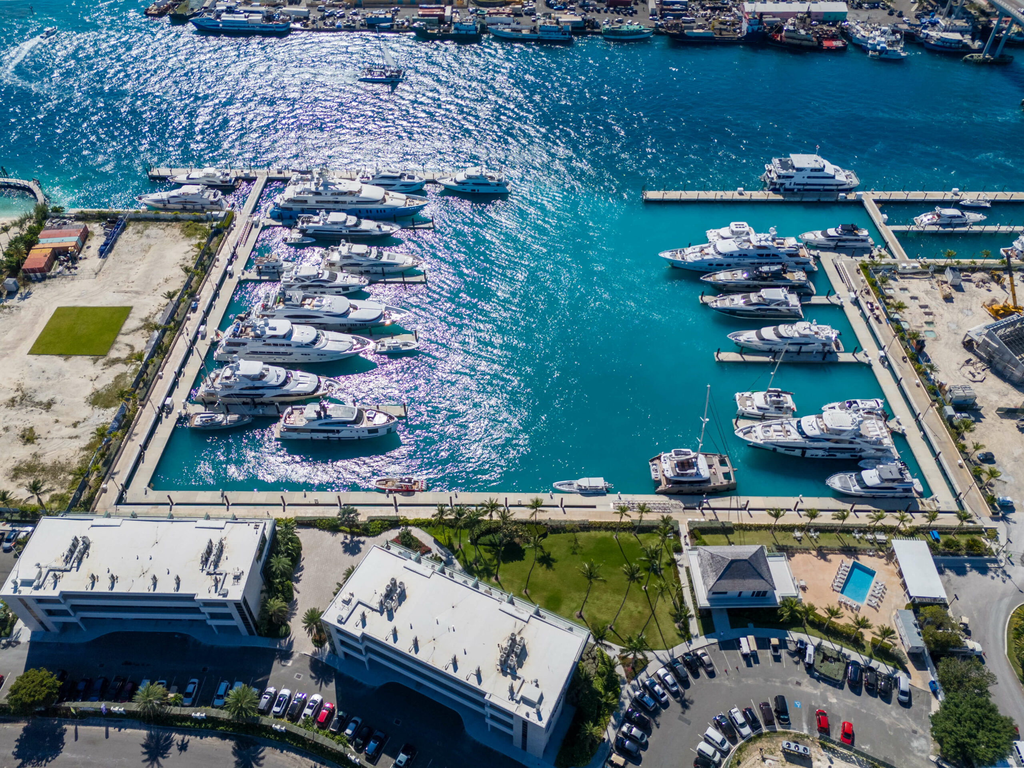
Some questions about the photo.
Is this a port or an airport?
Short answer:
port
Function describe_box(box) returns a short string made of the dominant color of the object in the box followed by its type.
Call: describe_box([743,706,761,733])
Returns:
black car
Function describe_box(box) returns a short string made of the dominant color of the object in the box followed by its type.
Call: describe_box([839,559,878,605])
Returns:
blue swimming pool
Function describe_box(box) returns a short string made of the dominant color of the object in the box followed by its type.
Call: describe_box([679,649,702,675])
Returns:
black car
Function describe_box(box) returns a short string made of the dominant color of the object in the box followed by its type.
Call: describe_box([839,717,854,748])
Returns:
red car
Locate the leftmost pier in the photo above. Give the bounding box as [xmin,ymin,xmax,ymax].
[0,177,49,206]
